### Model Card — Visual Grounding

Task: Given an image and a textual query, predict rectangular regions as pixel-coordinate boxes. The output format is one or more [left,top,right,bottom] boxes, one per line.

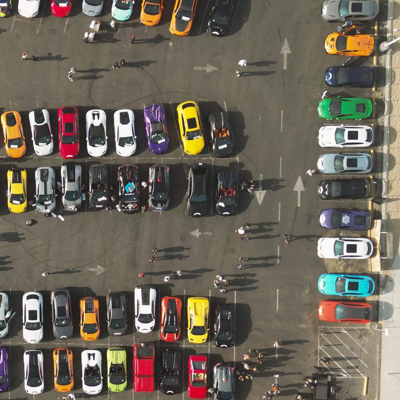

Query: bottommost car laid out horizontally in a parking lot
[318,300,373,324]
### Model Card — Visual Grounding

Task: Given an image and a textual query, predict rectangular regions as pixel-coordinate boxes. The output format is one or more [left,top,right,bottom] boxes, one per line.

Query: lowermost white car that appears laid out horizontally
[318,236,373,259]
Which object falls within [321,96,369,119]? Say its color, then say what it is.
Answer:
green car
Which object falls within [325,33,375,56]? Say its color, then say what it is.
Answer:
orange car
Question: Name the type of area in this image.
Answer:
parking lot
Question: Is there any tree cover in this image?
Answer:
No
